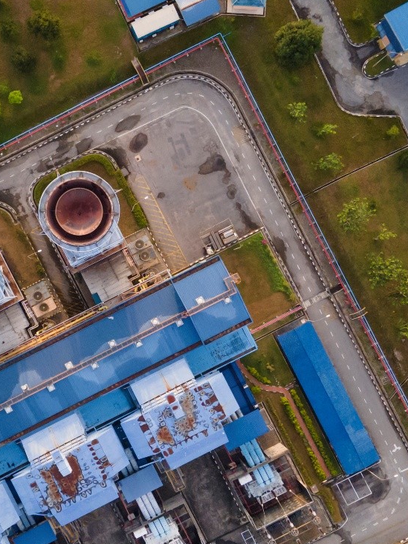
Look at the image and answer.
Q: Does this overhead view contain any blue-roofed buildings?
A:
Yes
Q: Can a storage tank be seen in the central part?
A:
No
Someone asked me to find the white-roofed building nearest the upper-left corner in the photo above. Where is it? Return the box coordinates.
[131,1,180,44]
